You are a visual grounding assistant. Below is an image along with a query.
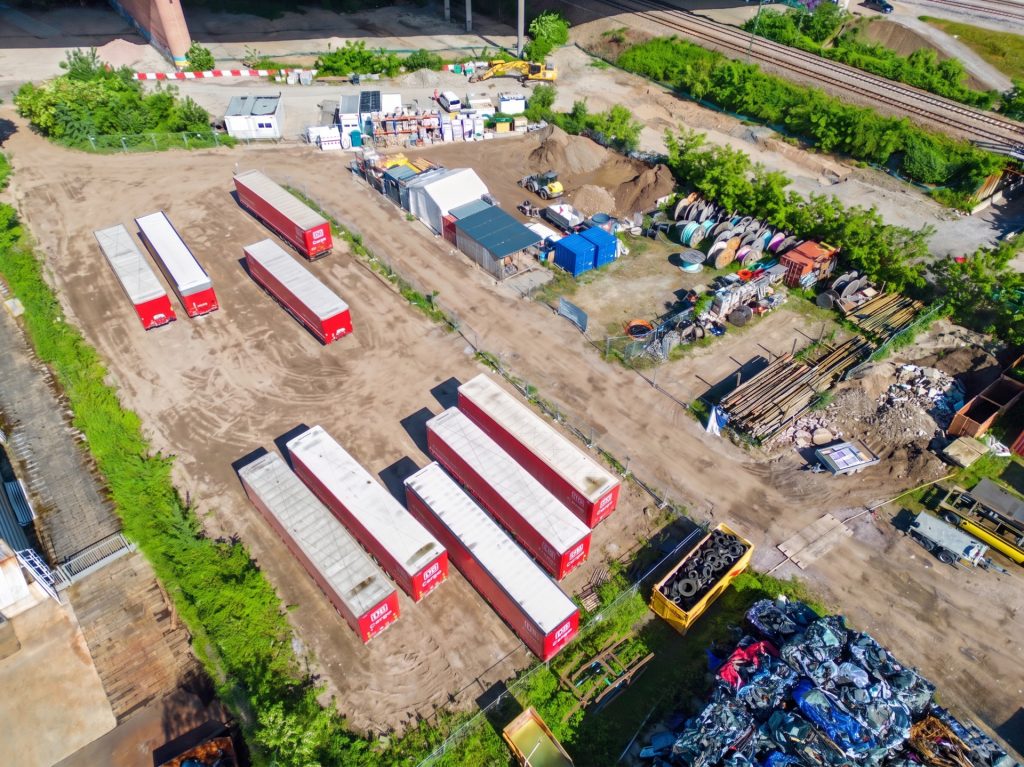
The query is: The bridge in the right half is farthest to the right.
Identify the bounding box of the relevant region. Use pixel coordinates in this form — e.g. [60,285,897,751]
[986,132,1024,177]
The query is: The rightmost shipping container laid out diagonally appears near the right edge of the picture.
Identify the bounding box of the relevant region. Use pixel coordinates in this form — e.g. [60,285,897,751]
[948,355,1024,451]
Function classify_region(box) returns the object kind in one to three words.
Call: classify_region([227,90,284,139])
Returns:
building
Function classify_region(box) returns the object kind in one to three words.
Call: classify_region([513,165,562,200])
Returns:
work vehicle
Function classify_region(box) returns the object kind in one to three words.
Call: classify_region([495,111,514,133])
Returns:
shed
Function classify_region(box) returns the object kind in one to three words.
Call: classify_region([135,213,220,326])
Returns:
trailer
